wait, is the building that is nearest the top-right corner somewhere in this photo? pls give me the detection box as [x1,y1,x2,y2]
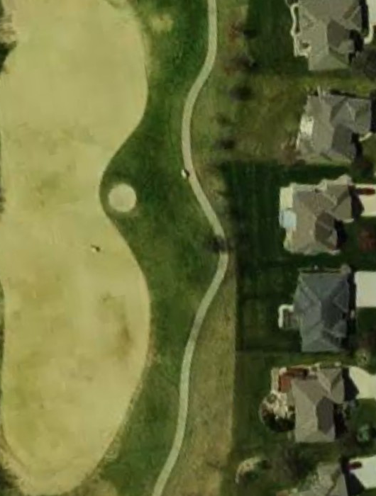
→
[296,0,362,71]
